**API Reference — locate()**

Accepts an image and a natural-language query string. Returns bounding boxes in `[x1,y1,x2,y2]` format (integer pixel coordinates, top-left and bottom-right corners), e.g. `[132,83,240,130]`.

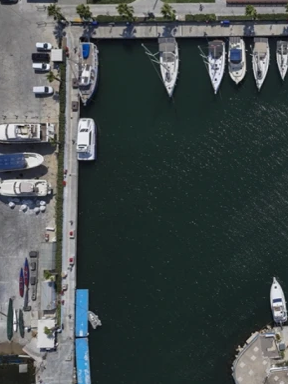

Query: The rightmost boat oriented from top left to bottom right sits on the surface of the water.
[88,313,102,329]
